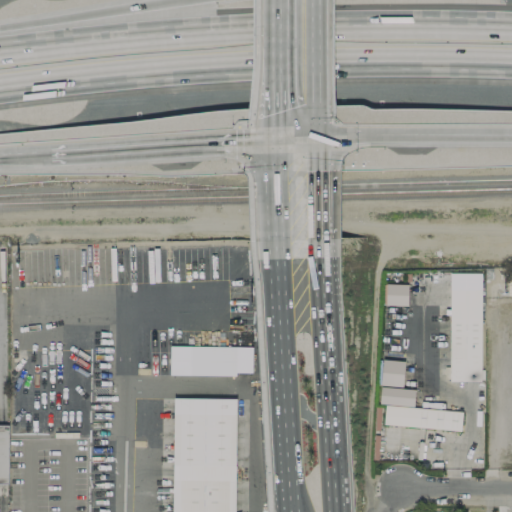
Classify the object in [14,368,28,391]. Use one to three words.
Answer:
vehicle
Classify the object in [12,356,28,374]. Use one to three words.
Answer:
vehicle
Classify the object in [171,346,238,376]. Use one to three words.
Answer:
building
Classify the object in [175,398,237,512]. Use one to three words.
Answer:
building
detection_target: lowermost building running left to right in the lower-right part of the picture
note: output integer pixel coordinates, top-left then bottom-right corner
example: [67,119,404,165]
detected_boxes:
[385,406,466,432]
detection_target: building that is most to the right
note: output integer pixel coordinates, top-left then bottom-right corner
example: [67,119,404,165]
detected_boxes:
[452,274,484,382]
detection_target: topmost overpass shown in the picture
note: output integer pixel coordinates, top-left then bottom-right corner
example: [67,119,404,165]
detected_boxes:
[249,0,336,106]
